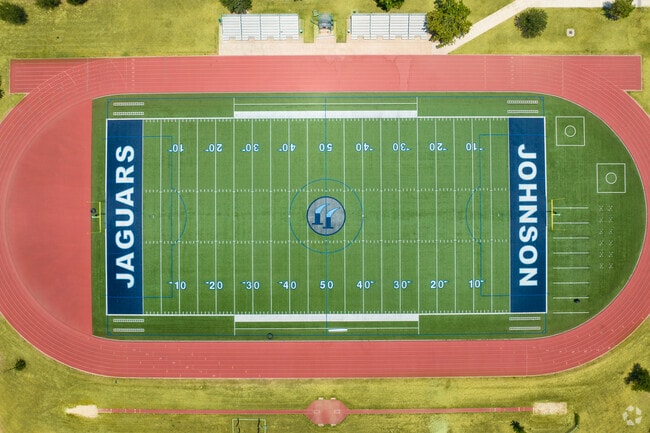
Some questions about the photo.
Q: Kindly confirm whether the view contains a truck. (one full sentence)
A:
No, the photo shows no truck.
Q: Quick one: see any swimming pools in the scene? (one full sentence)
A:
No, the frame has no swimming pool in it.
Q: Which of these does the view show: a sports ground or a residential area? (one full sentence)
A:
What you see here is a sports ground.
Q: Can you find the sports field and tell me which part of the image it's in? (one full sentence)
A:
The sports field appears toward the center of the photo.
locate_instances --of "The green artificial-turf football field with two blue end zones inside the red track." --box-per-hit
[93,92,646,340]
